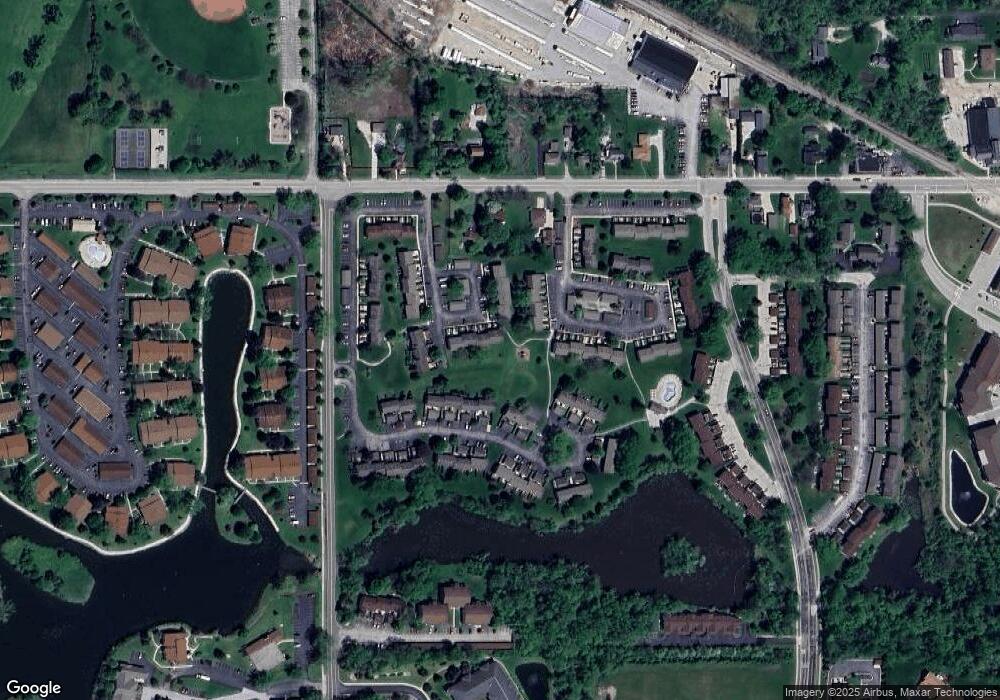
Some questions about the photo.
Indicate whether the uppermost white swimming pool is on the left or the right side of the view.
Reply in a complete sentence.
The uppermost white swimming pool appears in the left half of the scene.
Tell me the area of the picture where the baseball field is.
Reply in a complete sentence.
The baseball field appears toward the top left of the photo.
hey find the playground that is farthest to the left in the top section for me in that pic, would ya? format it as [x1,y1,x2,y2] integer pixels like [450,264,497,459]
[270,105,291,144]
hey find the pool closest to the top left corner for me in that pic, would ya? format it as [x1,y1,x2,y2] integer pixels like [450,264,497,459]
[80,234,111,268]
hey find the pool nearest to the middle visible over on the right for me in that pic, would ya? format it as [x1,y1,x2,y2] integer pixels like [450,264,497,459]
[647,375,683,427]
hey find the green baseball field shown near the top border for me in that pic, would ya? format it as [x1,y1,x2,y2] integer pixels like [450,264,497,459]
[129,0,277,78]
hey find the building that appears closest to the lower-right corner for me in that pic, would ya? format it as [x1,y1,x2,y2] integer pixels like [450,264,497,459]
[913,671,951,700]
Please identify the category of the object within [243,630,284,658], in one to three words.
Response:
building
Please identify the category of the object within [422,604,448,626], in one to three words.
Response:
house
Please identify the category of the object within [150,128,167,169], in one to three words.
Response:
basketball court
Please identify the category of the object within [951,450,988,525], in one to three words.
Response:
pond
